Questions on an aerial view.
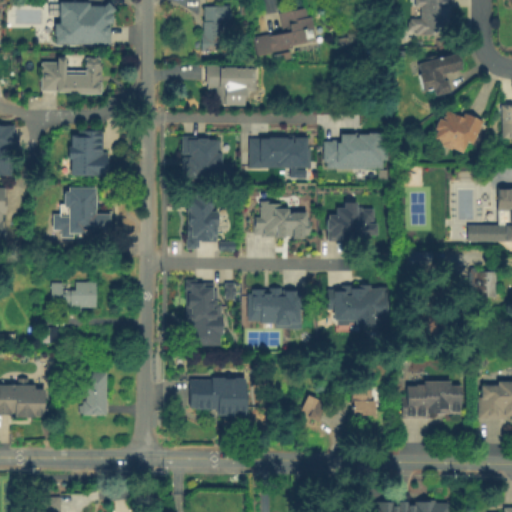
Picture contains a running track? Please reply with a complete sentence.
No, no running track is visible in the scene.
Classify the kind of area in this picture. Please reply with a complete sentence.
This looks like a residential area.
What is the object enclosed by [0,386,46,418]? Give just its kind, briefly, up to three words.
house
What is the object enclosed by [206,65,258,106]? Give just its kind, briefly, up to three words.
house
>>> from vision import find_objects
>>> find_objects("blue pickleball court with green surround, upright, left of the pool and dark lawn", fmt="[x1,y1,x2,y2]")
[405,187,431,231]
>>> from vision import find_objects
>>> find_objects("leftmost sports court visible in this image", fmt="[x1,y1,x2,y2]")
[244,328,282,350]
